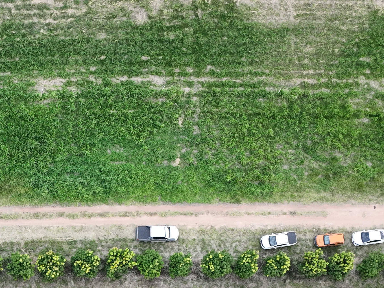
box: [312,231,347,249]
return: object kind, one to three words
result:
car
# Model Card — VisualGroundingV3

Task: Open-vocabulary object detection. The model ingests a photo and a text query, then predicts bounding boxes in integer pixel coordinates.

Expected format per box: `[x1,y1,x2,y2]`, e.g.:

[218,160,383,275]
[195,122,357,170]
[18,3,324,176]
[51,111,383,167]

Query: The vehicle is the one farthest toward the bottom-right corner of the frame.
[349,229,384,248]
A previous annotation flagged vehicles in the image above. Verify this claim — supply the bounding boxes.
[135,224,178,243]
[312,231,347,249]
[258,230,298,250]
[349,229,384,248]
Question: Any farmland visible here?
Yes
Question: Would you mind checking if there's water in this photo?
No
